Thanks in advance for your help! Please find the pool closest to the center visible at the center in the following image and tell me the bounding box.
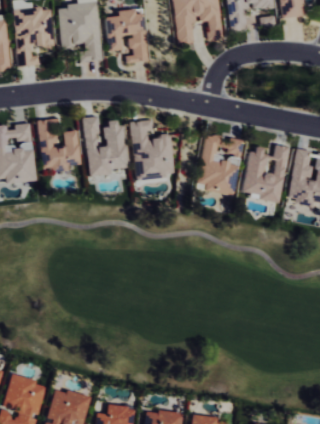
[144,184,169,198]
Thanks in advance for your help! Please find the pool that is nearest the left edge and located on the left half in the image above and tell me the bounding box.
[1,188,24,200]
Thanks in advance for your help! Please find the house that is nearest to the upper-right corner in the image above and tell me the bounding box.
[280,0,317,18]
